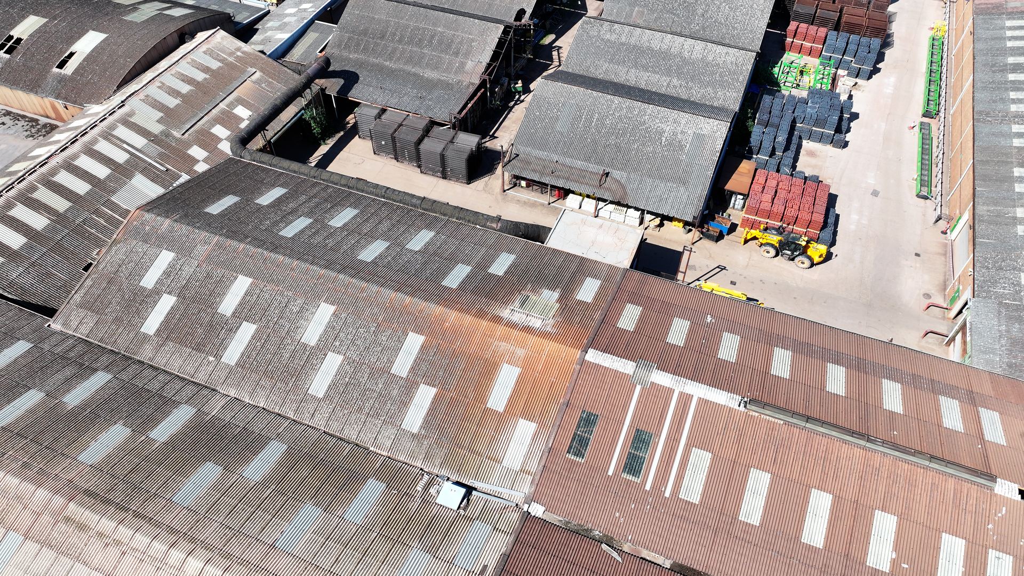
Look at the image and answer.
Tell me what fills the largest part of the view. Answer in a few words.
buildings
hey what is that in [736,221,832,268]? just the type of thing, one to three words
work vehicle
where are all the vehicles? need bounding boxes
[694,283,769,307]
[736,221,832,268]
